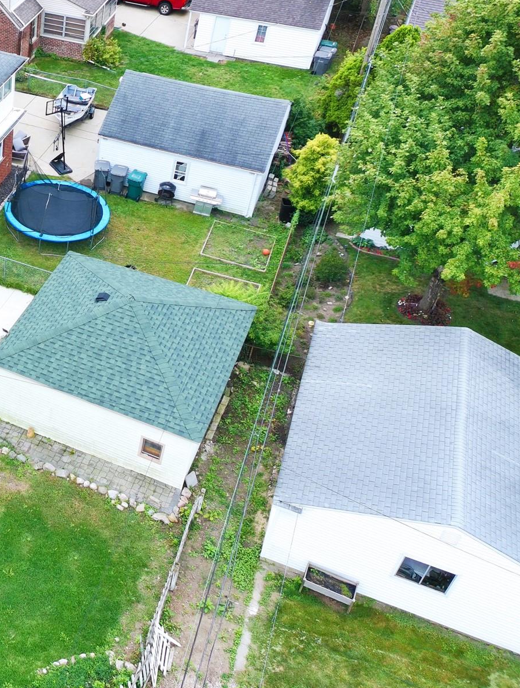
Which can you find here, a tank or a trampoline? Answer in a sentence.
The one in the frame is a trampoline.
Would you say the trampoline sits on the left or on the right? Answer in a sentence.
The trampoline sits on the left side.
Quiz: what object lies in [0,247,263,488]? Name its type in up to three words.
building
